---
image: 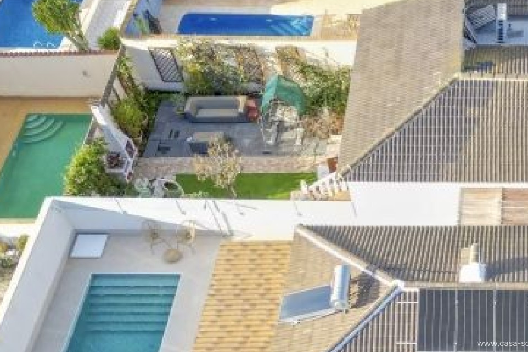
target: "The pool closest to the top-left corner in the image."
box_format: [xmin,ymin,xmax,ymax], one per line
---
[0,0,90,51]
